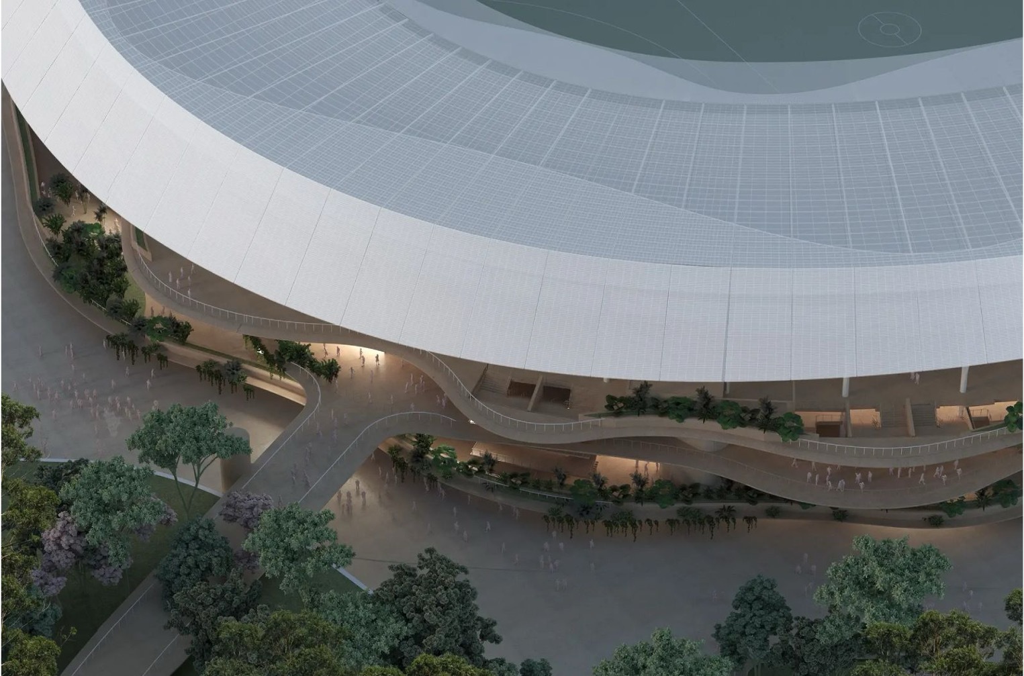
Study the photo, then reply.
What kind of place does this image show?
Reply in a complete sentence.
This image shows a sports ground.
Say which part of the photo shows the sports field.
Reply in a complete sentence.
The sports field sits in the top right section of the image.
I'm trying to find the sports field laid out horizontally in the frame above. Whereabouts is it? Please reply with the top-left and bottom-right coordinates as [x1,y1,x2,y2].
[473,0,1024,64]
